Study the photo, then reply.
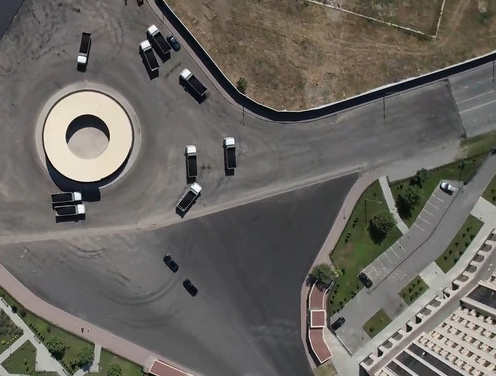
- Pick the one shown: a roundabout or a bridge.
roundabout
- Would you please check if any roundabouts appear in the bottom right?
No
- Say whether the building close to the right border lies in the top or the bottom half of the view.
bottom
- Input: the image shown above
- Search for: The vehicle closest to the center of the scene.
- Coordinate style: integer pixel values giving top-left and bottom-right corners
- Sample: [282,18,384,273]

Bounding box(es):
[223,136,237,169]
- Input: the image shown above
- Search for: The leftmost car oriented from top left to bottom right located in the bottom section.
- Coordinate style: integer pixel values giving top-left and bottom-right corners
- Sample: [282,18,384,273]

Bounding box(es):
[164,254,177,270]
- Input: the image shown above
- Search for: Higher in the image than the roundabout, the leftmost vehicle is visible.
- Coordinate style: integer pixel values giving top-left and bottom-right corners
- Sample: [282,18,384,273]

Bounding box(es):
[77,33,91,64]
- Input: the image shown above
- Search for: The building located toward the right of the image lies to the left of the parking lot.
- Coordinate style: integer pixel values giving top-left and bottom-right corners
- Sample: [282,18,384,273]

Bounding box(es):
[307,278,332,362]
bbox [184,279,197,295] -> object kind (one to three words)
vehicle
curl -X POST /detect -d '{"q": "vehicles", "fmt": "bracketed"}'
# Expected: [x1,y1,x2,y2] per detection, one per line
[440,181,457,192]
[164,254,177,270]
[179,66,208,98]
[331,316,346,330]
[167,35,179,51]
[77,33,91,64]
[140,39,161,71]
[148,24,171,55]
[223,136,237,169]
[184,279,197,295]
[176,181,200,211]
[55,203,87,215]
[358,272,372,287]
[185,145,198,177]
[52,191,83,202]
